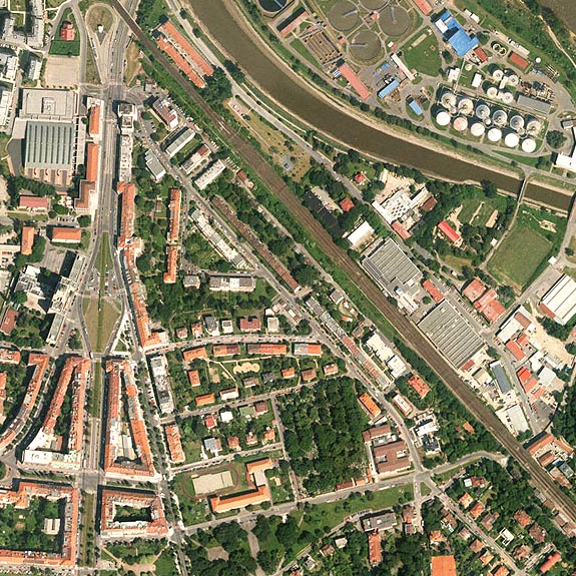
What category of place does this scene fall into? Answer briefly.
residential area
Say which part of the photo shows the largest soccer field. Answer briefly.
right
